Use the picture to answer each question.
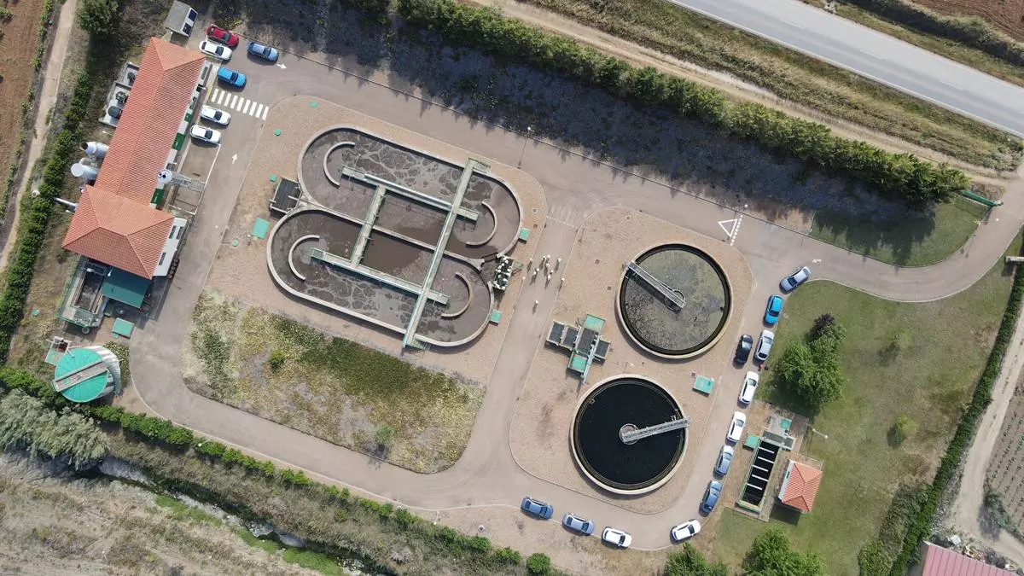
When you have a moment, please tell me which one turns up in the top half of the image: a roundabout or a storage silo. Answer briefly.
storage silo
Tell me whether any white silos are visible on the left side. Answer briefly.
Yes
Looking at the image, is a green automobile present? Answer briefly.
No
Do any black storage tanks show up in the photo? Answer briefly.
Yes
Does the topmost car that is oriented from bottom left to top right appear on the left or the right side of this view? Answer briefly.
right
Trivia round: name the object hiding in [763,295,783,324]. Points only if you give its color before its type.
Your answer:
blue car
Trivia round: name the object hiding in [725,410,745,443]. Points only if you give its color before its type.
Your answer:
white car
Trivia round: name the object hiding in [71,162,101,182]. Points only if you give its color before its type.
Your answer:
white silo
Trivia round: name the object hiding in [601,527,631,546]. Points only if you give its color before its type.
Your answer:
white car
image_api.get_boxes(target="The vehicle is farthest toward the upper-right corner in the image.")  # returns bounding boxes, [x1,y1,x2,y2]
[779,266,812,291]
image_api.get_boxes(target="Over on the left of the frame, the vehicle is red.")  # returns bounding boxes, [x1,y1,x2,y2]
[206,26,239,48]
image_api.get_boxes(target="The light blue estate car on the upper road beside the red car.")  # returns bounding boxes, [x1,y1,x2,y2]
[246,43,279,63]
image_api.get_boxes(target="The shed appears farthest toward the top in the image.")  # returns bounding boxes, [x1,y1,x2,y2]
[160,0,196,41]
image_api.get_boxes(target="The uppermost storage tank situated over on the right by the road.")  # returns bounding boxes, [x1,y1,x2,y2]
[616,243,732,357]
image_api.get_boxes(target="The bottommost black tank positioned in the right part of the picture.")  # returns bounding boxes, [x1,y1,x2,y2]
[569,374,692,492]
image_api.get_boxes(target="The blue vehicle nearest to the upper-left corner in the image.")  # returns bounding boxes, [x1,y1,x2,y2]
[215,67,247,88]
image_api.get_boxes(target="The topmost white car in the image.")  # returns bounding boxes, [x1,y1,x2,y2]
[199,40,233,61]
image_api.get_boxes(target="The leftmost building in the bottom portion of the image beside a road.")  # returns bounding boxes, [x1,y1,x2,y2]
[546,315,610,382]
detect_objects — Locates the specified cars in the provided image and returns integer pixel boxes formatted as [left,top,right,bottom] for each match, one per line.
[562,512,593,533]
[738,371,758,404]
[206,26,239,48]
[725,410,745,443]
[734,333,753,364]
[246,43,279,63]
[763,295,783,324]
[713,445,733,477]
[601,527,631,546]
[700,480,720,513]
[189,125,223,145]
[779,266,812,291]
[754,330,774,361]
[199,106,232,126]
[521,497,553,517]
[215,67,247,88]
[199,40,233,61]
[670,519,700,540]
